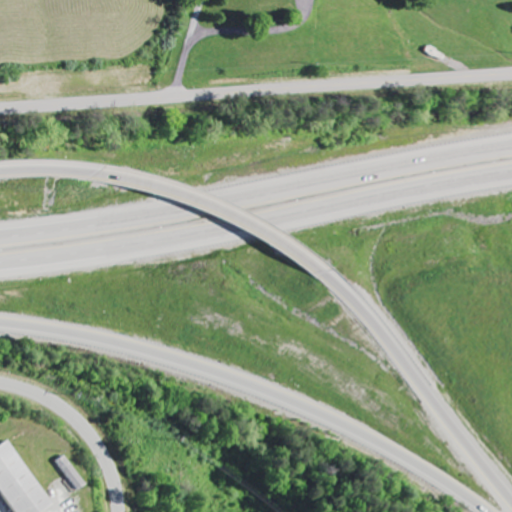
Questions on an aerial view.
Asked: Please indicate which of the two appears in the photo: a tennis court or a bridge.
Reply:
bridge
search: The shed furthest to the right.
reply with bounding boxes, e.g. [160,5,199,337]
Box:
[55,456,86,492]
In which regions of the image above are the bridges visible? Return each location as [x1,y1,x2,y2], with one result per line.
[90,160,344,292]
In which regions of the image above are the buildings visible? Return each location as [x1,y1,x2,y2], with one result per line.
[0,441,60,512]
[55,456,86,492]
